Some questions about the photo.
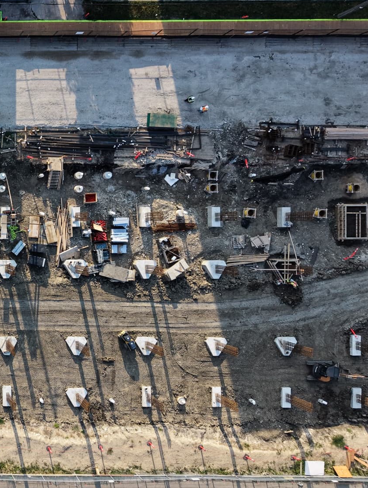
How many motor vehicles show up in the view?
2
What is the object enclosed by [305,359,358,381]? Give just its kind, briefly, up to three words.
work vehicle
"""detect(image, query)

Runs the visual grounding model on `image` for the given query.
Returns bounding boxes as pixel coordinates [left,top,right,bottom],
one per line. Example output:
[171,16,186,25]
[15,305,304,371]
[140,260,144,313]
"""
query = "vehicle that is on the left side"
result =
[114,326,138,353]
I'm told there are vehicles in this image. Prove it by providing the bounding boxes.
[305,359,358,381]
[114,326,138,353]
